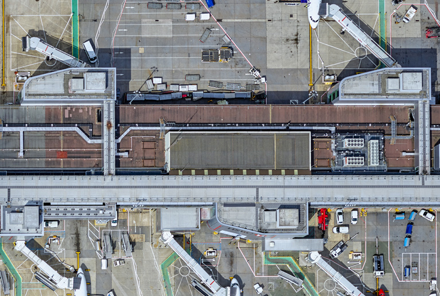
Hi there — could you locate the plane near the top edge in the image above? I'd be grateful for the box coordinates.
[308,0,322,28]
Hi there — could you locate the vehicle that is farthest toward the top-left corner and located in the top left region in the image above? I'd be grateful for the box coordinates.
[81,38,97,63]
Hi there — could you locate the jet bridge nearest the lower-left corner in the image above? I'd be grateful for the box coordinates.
[13,239,80,291]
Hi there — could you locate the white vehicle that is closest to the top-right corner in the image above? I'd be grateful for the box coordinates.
[403,5,418,22]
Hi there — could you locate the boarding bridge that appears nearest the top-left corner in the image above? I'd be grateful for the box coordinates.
[19,37,94,67]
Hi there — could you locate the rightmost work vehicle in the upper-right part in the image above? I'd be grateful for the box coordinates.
[423,25,440,38]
